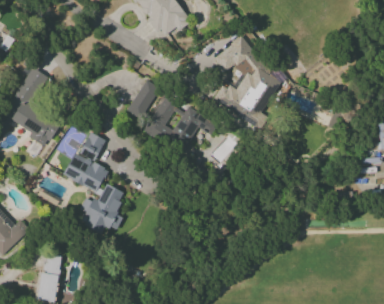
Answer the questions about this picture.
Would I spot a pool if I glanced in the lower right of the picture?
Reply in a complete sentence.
No, the scene shows no pool in the lower right of the picture.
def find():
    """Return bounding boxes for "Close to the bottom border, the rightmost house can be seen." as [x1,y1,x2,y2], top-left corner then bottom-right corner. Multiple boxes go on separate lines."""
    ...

[38,256,61,302]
